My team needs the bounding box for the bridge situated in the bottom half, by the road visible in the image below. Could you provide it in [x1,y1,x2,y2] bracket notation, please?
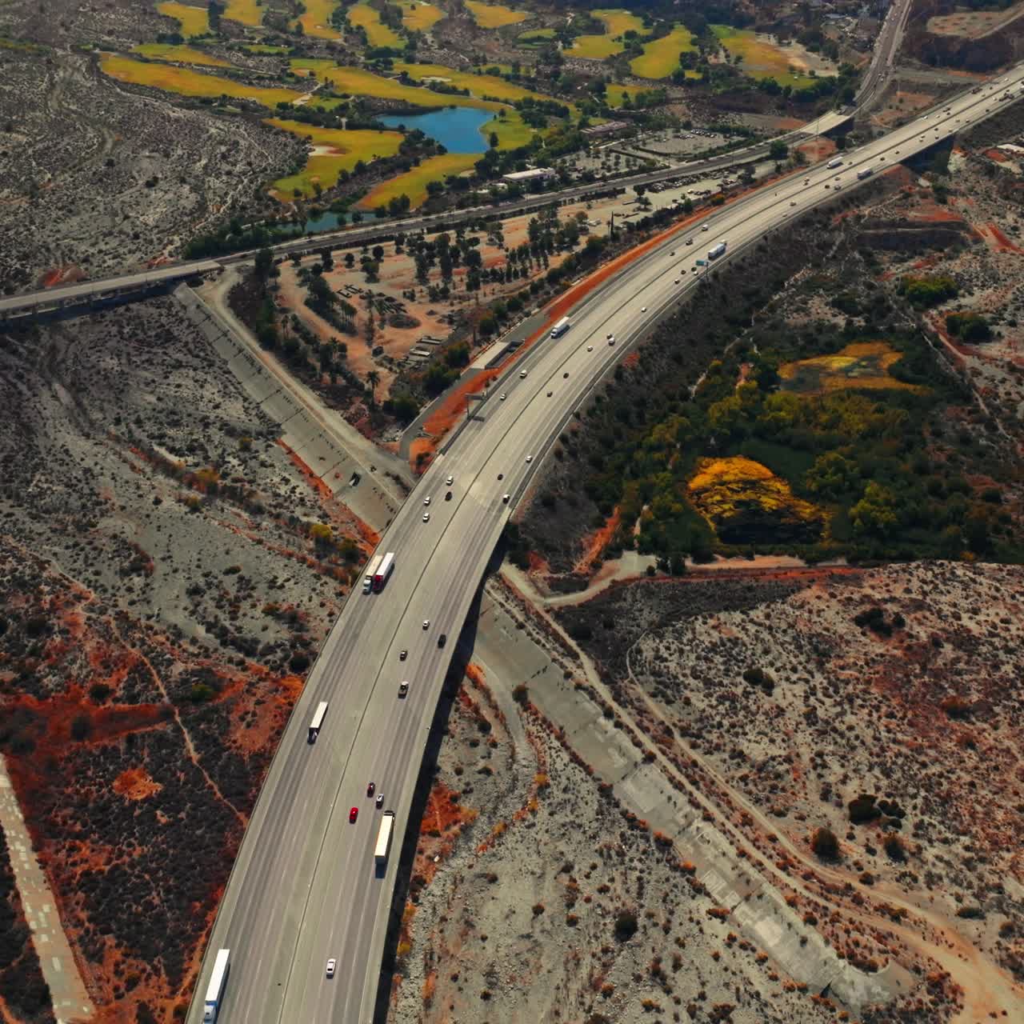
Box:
[184,502,508,1024]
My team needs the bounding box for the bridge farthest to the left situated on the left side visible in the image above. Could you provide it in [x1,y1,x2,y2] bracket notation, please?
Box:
[0,257,219,326]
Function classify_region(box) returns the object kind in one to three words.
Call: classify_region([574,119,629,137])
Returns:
building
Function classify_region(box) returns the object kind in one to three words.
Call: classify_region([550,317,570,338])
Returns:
vehicle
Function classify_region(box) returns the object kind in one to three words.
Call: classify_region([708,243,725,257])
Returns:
vehicle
